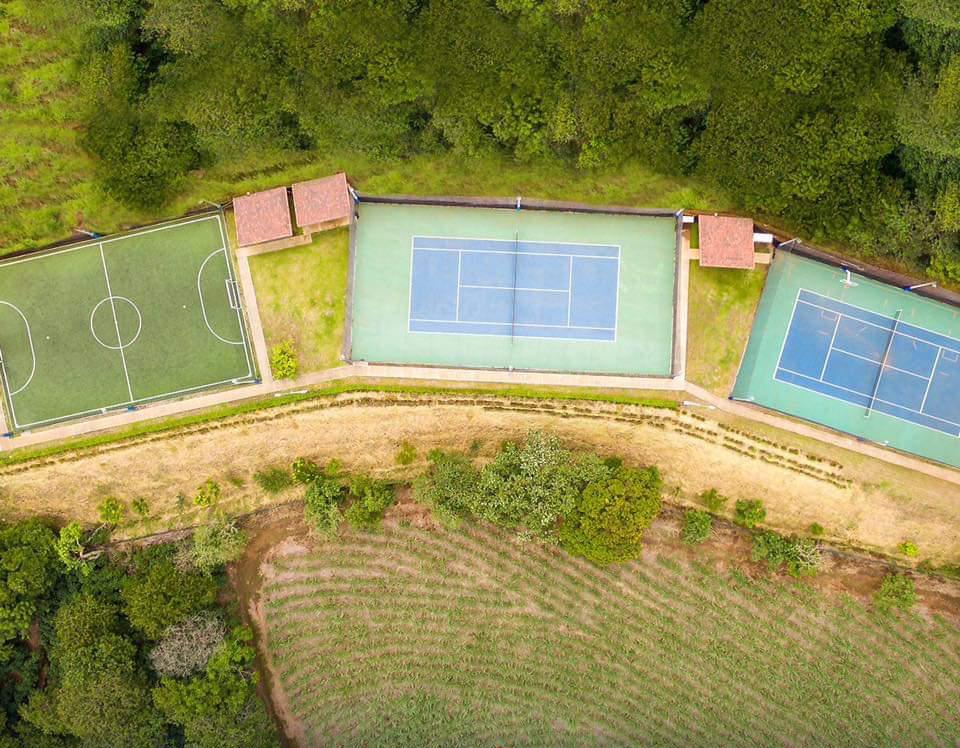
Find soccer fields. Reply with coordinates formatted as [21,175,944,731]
[0,208,262,435]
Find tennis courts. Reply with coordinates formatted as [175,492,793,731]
[734,250,960,468]
[350,203,676,377]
